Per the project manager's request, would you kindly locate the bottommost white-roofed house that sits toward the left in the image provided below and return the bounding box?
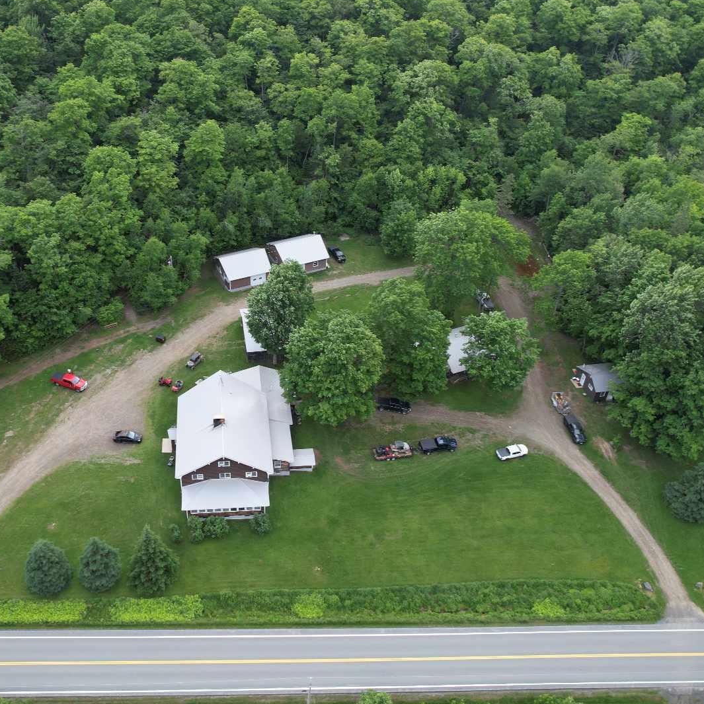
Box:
[162,365,317,520]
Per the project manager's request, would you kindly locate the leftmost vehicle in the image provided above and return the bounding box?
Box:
[52,372,87,391]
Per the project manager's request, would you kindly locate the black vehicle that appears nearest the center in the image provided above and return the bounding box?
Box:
[376,398,411,414]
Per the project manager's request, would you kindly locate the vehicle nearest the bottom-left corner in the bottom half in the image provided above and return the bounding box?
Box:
[112,430,142,443]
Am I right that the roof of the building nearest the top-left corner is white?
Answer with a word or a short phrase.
Yes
